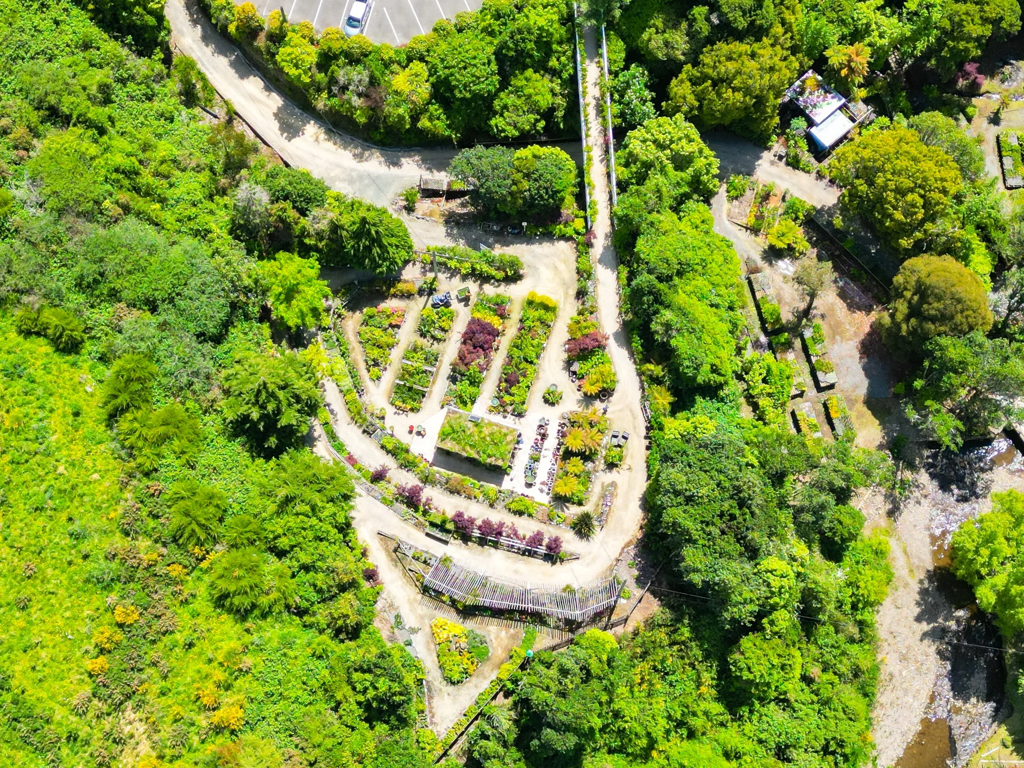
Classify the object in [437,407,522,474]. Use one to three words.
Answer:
building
